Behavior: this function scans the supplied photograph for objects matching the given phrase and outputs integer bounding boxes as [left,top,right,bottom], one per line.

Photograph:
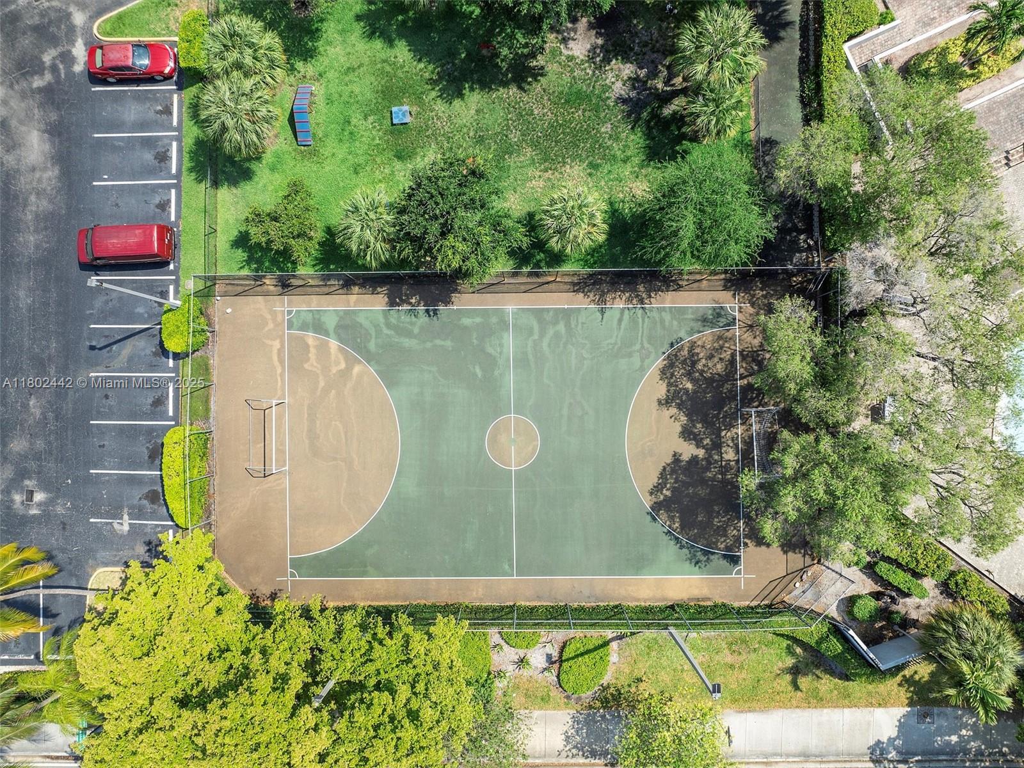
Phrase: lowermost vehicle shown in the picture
[77,223,179,269]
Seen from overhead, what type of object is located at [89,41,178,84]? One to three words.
car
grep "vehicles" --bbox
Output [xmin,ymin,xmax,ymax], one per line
[89,41,178,84]
[77,223,179,269]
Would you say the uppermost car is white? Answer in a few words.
No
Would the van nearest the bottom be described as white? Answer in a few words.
No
